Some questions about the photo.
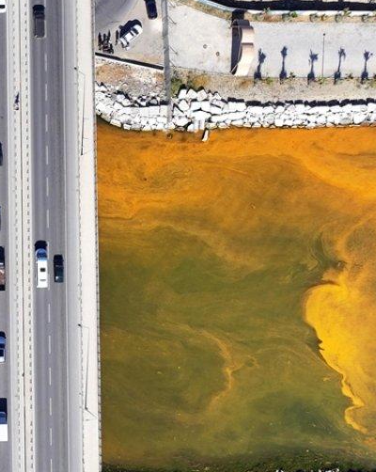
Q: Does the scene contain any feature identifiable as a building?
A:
No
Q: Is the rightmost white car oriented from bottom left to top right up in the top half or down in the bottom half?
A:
top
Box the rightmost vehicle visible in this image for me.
[145,0,157,18]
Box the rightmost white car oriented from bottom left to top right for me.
[119,25,142,46]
